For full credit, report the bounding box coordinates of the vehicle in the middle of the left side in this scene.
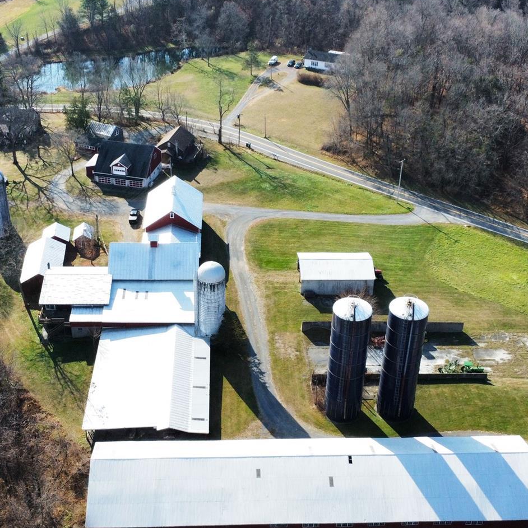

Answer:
[128,209,140,221]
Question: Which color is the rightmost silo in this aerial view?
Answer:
black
